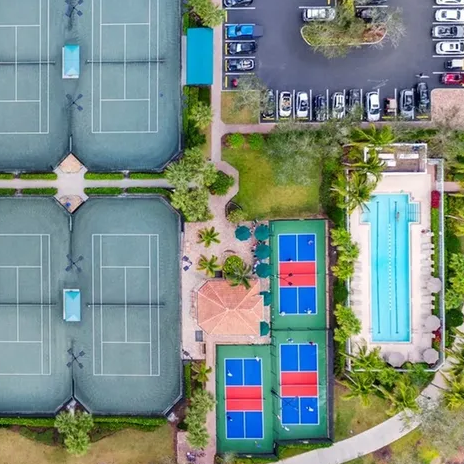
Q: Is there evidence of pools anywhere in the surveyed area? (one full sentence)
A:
Yes, there is a pool in the image.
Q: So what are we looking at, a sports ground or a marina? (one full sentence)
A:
It's a sports ground.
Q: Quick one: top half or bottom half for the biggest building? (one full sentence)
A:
The biggest building is in the bottom half of the image.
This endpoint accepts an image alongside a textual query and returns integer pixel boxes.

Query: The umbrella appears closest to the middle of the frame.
[235,225,251,241]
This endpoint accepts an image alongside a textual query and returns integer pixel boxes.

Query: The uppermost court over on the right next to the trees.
[270,221,327,330]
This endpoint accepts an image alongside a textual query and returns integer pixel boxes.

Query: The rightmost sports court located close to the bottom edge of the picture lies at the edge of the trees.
[270,330,329,443]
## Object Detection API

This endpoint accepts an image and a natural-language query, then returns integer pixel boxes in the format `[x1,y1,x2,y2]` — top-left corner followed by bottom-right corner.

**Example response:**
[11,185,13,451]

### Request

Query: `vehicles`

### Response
[366,92,382,120]
[296,90,310,119]
[262,91,277,119]
[382,100,401,109]
[279,91,292,117]
[331,91,347,119]
[228,24,264,37]
[445,59,464,68]
[224,0,252,6]
[436,8,464,22]
[304,7,334,21]
[437,0,464,5]
[347,89,363,117]
[400,90,416,119]
[227,58,256,71]
[314,92,329,120]
[227,41,257,54]
[433,24,464,38]
[440,71,464,85]
[438,41,464,54]
[415,84,432,112]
